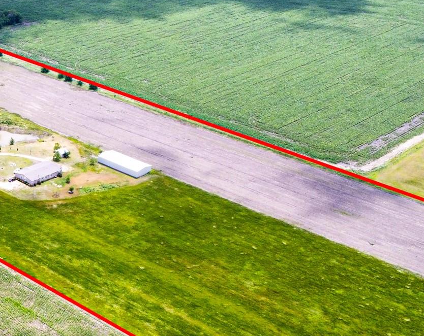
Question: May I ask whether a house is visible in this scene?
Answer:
Yes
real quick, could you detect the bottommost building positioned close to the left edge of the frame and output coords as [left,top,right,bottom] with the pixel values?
[10,158,64,185]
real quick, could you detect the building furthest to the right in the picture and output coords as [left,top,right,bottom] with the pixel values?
[99,146,155,178]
